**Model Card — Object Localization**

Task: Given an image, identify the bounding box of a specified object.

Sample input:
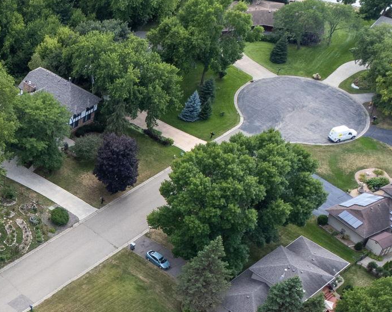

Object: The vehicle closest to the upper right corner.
[327,124,360,142]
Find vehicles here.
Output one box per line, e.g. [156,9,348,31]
[327,124,360,142]
[145,251,173,270]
